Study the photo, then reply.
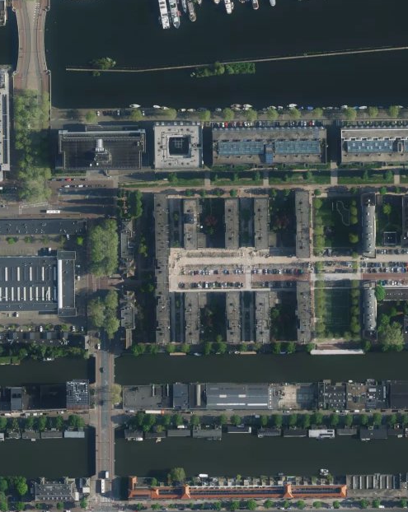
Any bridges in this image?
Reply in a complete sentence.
Yes, I can see a bridge in this picture.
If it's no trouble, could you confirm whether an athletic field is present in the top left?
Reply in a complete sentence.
No, there's no athletic field to be seen in the top left.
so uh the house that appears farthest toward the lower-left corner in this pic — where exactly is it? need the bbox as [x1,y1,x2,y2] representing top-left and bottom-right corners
[31,477,79,502]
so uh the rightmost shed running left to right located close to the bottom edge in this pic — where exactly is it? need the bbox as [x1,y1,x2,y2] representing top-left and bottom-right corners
[347,474,406,498]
